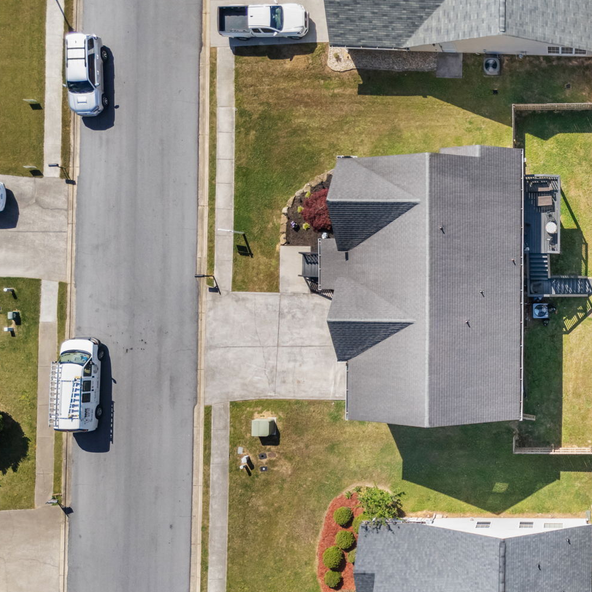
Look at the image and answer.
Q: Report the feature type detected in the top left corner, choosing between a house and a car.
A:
car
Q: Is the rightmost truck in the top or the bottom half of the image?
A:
top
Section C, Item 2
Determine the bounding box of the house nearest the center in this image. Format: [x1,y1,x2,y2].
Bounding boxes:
[298,144,527,429]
